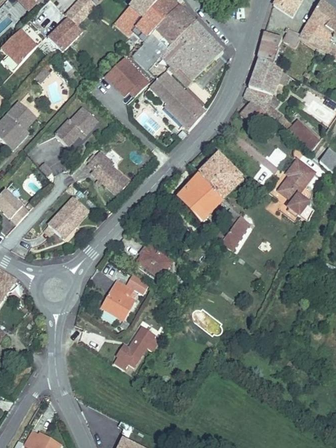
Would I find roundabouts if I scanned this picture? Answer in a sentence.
Yes, a roundabout appears in the view.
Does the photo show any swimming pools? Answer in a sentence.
Yes, a swimming pool can be made out from above.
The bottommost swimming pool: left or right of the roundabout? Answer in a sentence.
Relative to the roundabout, the bottommost swimming pool is on the right.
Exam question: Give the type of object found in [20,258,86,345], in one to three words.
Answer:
roundabout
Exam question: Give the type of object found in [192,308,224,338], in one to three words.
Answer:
swimming pool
